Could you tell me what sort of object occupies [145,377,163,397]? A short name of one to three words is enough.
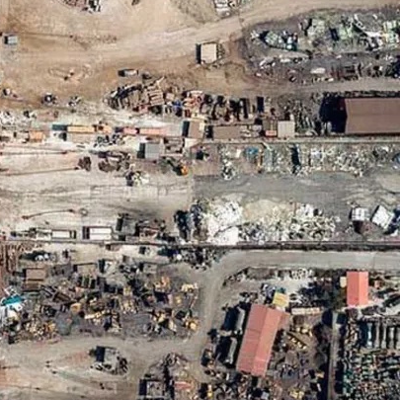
shed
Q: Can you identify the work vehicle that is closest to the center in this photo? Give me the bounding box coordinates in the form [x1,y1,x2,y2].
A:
[172,158,192,177]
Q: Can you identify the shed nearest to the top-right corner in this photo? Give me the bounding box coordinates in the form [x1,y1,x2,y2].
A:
[334,98,400,135]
